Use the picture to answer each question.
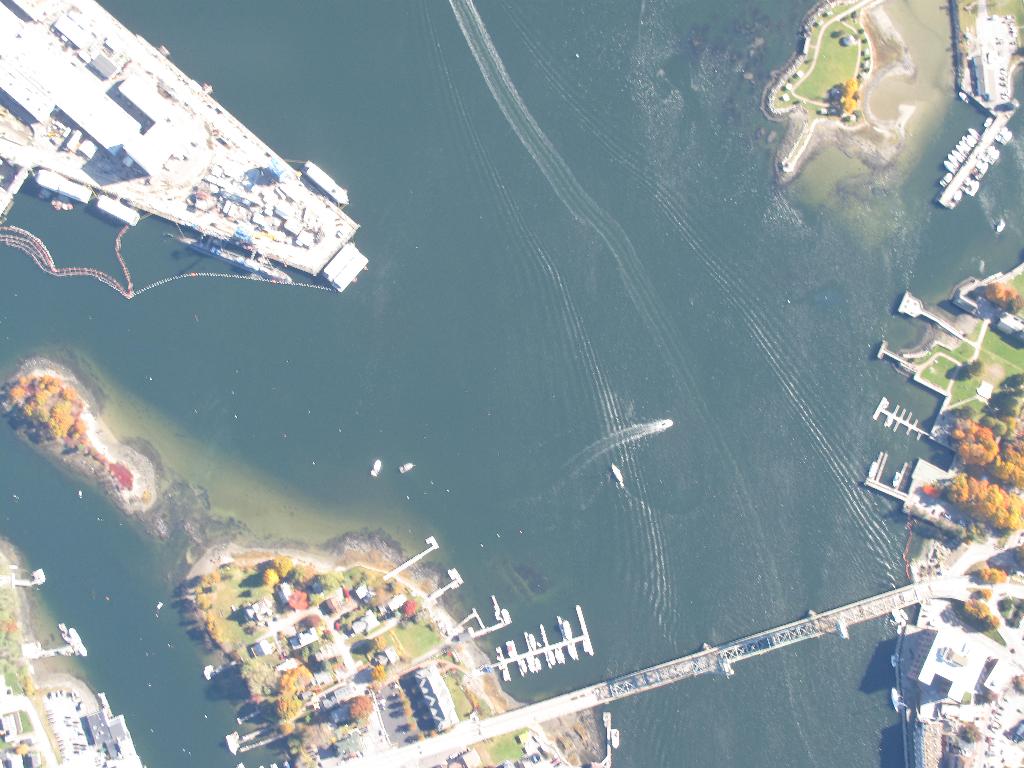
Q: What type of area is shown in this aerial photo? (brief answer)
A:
port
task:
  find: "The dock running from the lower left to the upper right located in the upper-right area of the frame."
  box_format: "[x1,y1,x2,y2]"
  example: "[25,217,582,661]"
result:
[936,110,1008,208]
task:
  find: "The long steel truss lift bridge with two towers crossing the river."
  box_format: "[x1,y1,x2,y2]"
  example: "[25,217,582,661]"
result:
[602,583,920,701]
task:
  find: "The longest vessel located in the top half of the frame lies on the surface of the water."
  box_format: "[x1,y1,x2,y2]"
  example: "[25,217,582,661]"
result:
[174,236,295,282]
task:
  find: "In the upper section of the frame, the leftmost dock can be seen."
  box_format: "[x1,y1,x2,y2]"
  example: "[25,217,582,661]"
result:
[0,165,32,221]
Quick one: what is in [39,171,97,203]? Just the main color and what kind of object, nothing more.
white ship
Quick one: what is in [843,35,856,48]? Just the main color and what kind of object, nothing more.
white gazebo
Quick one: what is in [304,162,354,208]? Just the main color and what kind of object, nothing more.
white ship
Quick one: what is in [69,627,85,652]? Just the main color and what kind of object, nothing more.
white boat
